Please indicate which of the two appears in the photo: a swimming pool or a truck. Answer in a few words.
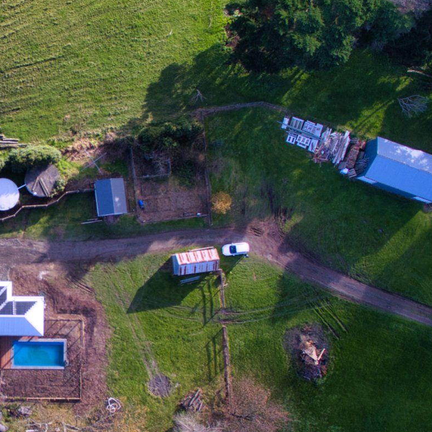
swimming pool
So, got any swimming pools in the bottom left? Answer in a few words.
Yes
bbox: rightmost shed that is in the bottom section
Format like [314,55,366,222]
[171,249,219,276]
